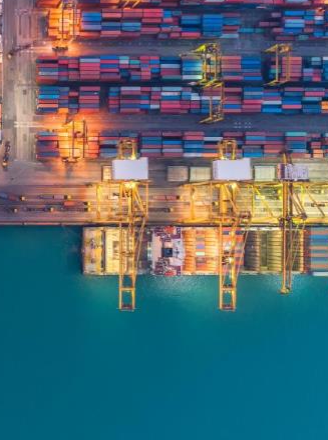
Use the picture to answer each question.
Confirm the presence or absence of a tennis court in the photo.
No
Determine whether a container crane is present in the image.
Yes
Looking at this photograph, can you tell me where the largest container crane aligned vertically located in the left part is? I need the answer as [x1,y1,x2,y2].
[81,135,148,316]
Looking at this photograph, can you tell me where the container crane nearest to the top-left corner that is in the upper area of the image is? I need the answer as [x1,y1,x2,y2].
[51,2,77,50]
